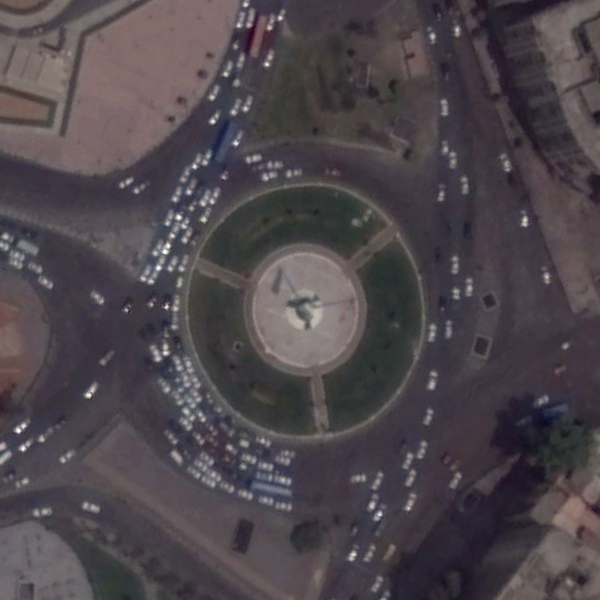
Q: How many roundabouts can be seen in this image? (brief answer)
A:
1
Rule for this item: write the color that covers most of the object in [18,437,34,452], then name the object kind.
white car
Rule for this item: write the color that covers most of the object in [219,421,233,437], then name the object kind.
gray car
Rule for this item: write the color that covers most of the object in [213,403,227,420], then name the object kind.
gray car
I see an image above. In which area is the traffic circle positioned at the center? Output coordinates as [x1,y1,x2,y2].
[179,176,430,444]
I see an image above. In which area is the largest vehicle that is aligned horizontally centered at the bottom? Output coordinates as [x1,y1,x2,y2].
[247,480,291,497]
